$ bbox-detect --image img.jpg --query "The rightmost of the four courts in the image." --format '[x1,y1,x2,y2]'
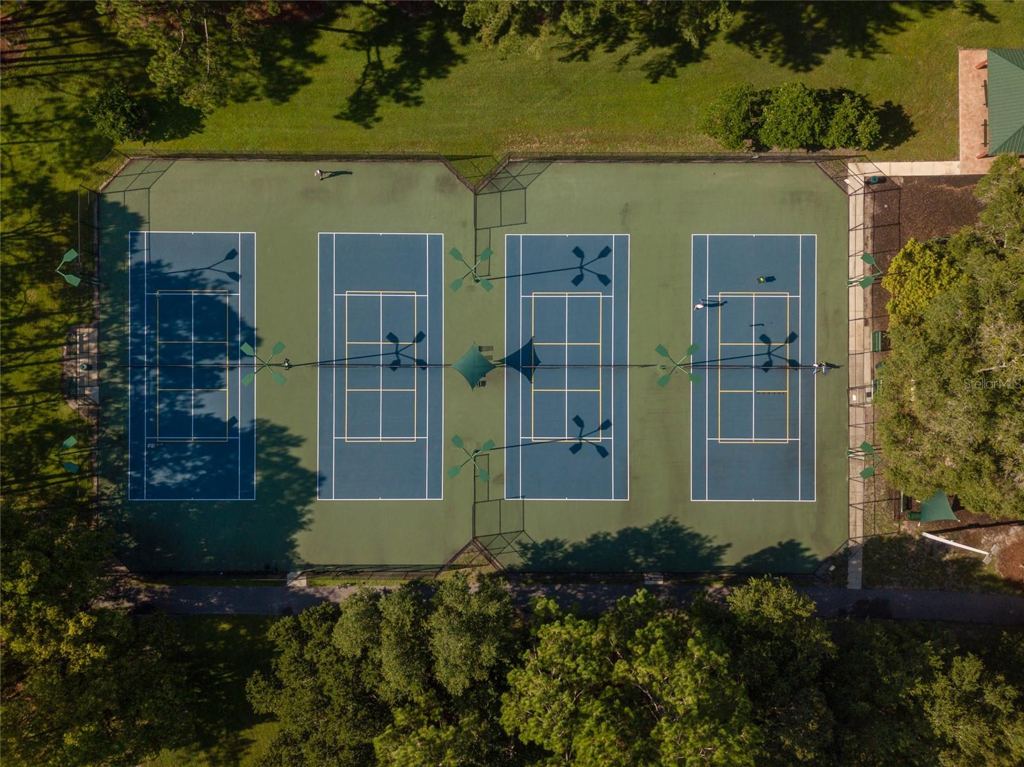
[692,235,816,501]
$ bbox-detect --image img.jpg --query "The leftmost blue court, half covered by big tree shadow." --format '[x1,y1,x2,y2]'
[129,232,255,500]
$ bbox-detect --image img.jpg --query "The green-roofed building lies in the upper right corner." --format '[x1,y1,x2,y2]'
[975,48,1024,160]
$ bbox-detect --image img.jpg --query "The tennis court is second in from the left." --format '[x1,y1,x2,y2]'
[319,233,443,499]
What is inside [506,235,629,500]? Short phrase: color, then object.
blue tennis court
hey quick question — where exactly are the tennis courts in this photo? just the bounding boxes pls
[319,233,443,499]
[129,232,255,500]
[692,235,816,501]
[506,235,629,500]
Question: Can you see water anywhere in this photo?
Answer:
No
